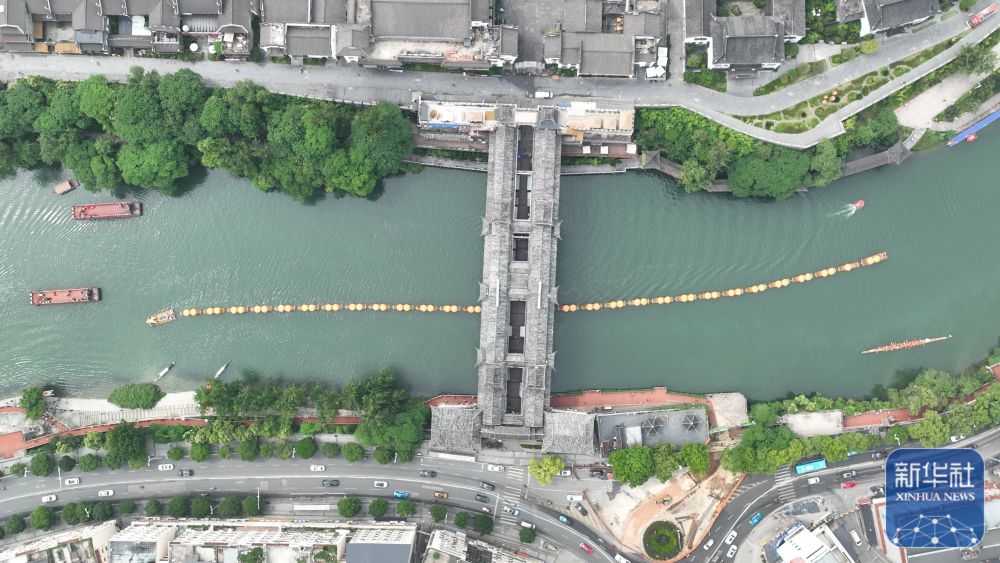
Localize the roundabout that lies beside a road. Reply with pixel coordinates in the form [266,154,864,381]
[638,516,685,562]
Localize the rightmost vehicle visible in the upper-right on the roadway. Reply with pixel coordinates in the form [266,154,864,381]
[964,4,995,29]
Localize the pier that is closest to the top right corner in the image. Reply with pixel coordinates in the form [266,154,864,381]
[949,109,1000,146]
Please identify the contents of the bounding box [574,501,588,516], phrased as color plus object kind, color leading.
gray vehicle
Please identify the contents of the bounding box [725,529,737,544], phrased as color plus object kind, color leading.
white vehicle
